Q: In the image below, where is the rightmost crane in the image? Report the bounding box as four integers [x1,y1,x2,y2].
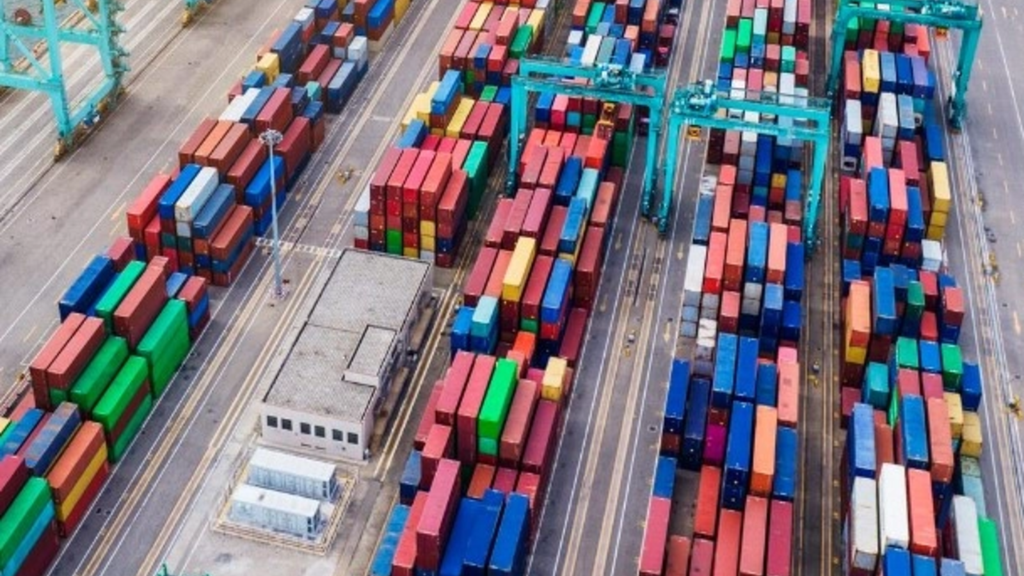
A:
[832,0,983,127]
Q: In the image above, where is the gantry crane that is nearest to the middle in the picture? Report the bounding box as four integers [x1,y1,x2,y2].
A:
[510,50,665,216]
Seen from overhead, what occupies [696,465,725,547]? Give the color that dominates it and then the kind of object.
red shipping container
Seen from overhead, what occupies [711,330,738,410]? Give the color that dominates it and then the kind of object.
blue shipping container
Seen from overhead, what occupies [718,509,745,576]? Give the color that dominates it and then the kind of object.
red shipping container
